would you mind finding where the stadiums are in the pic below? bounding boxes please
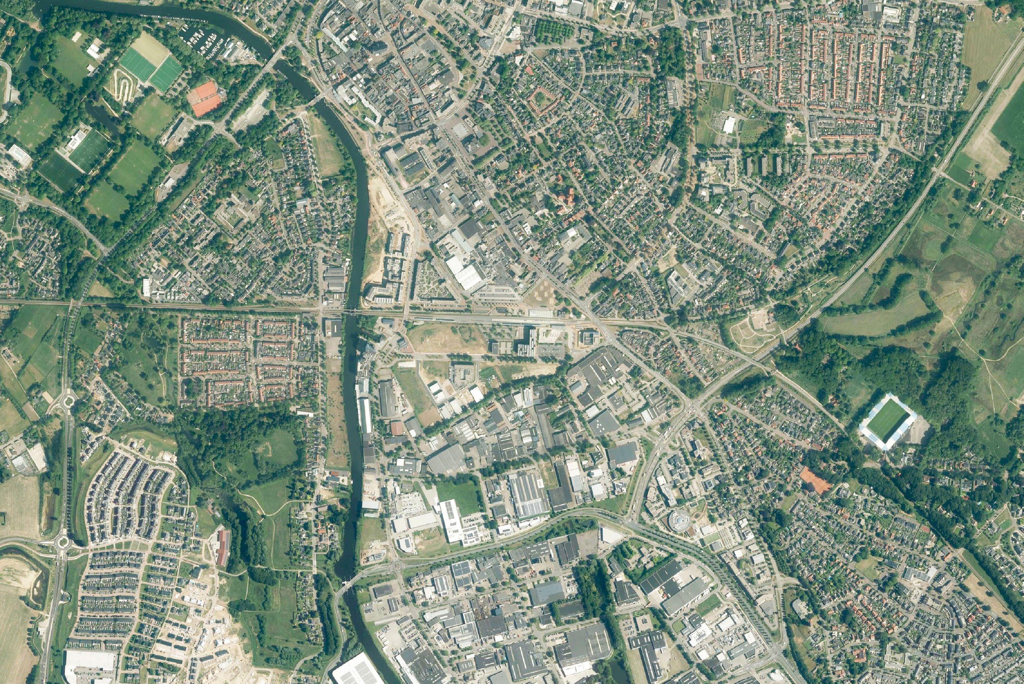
[860,392,917,450]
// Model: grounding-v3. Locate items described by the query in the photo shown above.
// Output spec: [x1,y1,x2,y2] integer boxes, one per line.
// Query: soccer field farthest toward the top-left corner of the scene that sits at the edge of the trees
[56,42,94,81]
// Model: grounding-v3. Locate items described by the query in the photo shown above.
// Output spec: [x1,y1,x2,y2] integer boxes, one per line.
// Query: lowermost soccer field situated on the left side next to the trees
[89,182,128,218]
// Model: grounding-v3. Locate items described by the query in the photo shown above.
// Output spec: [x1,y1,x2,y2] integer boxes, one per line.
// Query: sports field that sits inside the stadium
[867,399,910,443]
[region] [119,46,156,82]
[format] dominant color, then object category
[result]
green sports field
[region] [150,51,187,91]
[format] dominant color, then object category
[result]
green sports field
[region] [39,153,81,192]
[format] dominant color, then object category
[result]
green soccer field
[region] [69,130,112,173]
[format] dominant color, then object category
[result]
green soccer field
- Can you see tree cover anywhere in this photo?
Yes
